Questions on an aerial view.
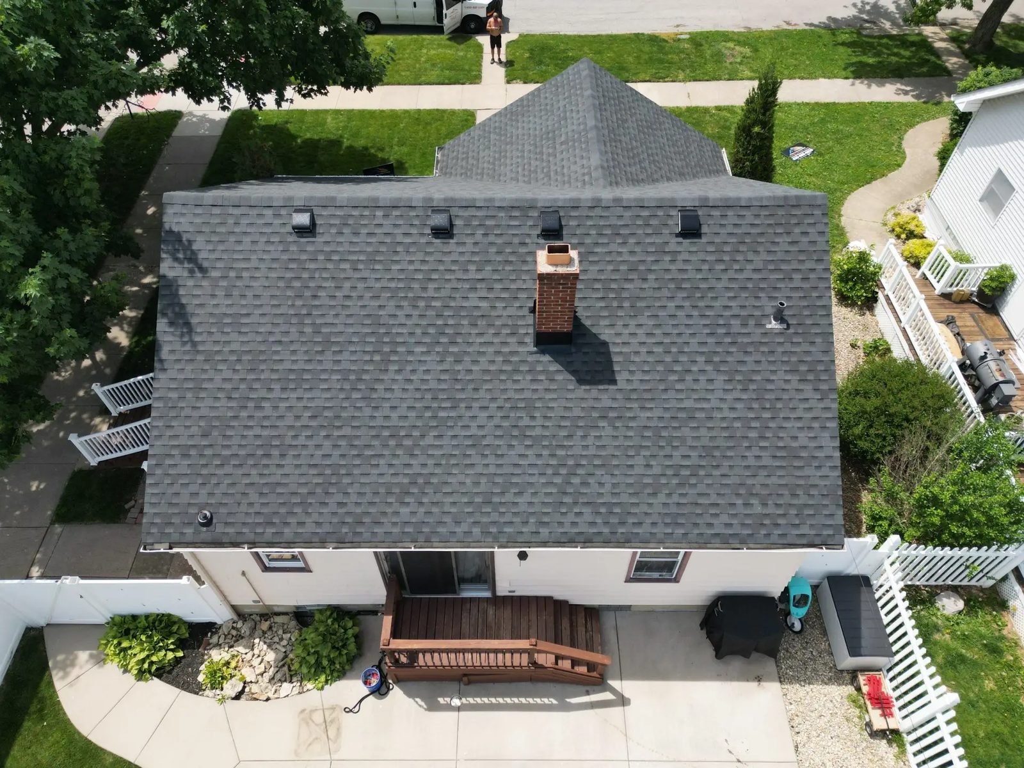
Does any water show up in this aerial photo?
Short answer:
No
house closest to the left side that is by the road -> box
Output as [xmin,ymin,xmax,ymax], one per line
[141,58,846,628]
